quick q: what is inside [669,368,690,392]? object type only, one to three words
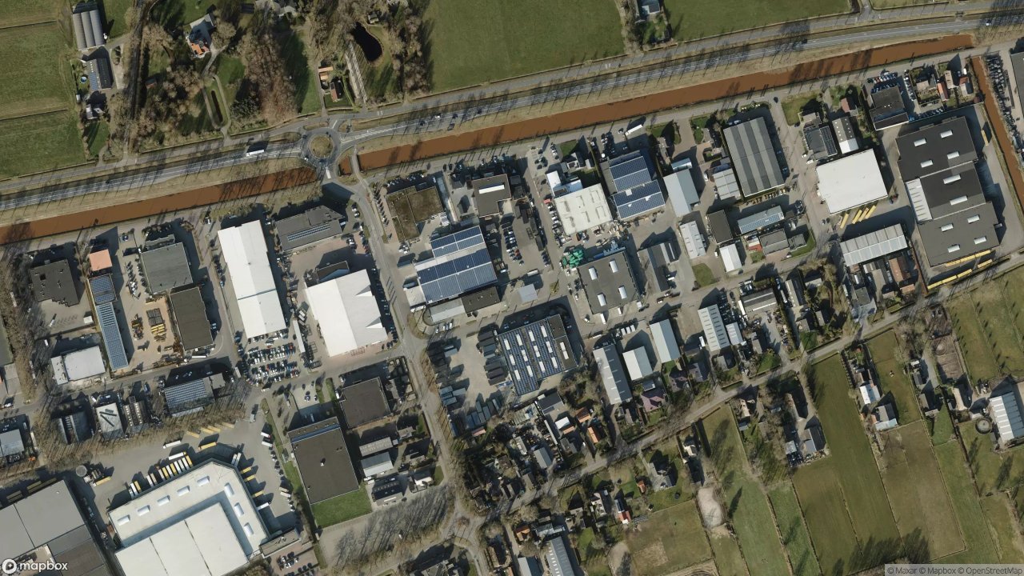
house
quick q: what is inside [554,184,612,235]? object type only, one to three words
building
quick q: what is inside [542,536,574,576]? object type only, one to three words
barn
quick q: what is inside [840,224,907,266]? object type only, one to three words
shed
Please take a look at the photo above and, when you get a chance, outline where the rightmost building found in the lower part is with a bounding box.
[989,392,1024,437]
